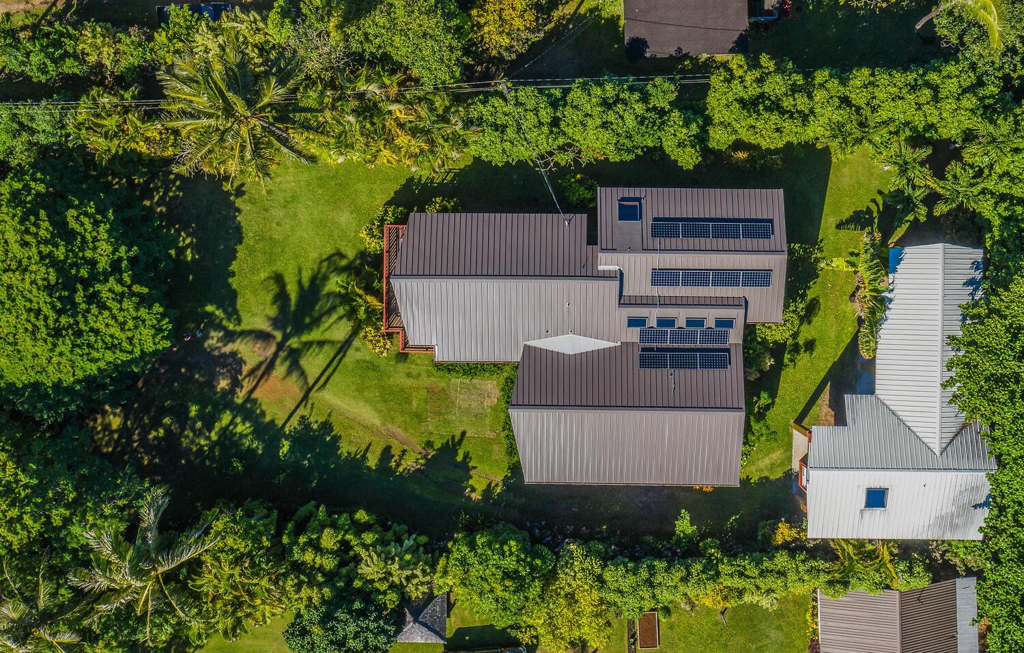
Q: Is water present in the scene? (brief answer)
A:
No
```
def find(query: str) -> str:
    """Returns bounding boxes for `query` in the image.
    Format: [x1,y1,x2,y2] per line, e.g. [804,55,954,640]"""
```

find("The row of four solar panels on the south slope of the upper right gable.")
[650,270,772,287]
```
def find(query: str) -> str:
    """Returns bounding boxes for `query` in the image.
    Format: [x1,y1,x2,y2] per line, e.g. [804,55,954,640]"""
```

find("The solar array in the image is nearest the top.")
[651,222,772,239]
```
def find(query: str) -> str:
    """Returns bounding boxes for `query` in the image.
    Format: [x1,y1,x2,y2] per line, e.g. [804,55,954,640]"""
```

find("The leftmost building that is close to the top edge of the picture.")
[623,0,752,59]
